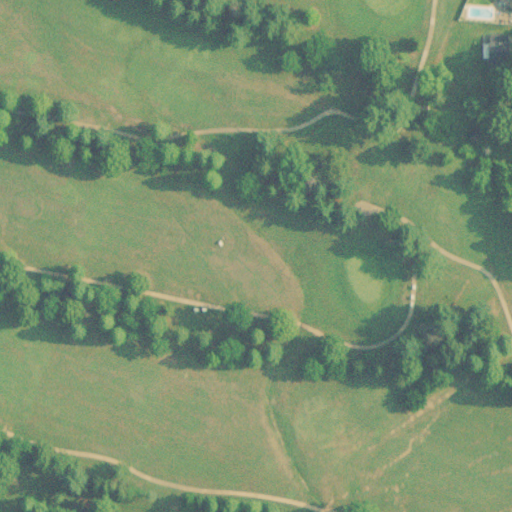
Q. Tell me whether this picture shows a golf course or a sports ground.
golf course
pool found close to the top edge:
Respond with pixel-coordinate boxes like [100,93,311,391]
[468,5,497,20]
